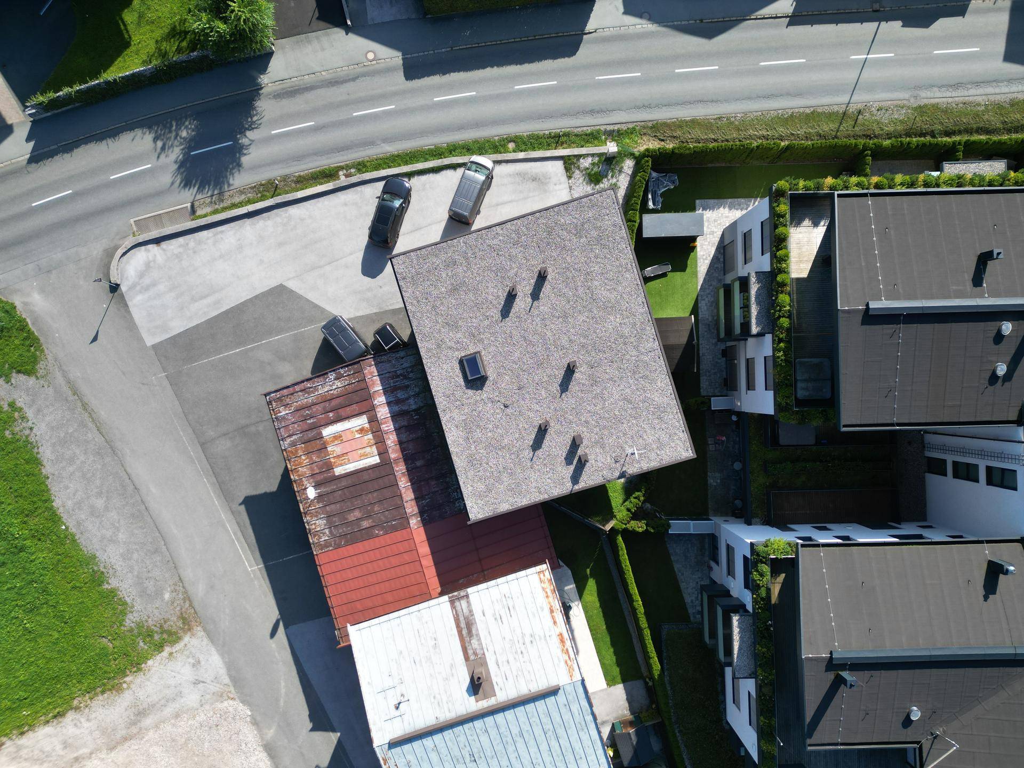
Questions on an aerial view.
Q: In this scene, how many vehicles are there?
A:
4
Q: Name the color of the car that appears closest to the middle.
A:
black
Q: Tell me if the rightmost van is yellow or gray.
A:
gray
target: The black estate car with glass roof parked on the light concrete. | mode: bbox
[364,176,409,252]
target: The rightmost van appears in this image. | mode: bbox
[448,152,494,228]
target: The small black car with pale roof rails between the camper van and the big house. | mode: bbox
[375,321,416,354]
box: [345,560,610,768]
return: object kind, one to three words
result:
house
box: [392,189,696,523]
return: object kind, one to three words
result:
house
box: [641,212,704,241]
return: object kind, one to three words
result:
shed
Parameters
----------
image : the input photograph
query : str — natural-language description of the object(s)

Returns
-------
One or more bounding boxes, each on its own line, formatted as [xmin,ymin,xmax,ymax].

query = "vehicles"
[375,321,416,354]
[322,315,378,365]
[448,152,494,228]
[364,176,409,252]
